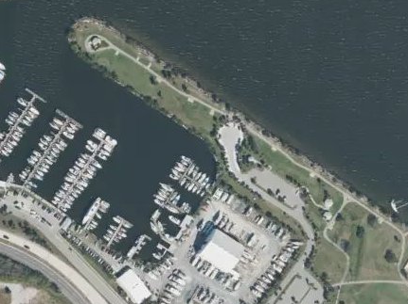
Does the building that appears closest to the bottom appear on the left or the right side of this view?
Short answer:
left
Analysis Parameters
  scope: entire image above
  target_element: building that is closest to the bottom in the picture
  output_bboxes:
[114,268,150,304]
